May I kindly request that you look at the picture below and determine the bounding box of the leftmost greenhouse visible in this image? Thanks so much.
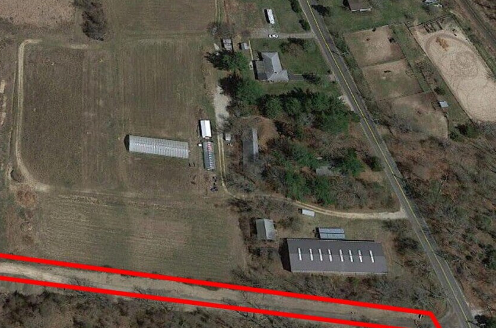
[128,133,190,158]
